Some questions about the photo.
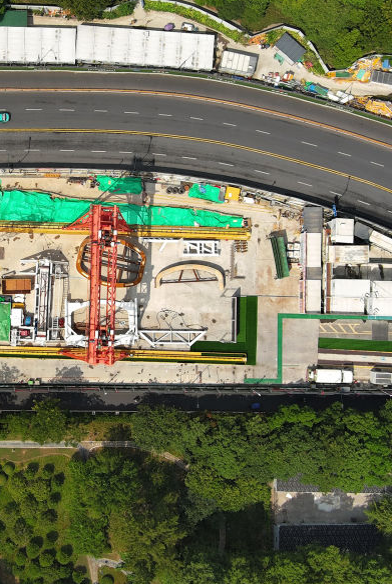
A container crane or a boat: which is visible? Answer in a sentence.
I can see a container crane in this picture.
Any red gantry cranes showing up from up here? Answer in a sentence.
Yes, there is a red gantry crane in the image.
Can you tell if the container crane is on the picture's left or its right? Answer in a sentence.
The container crane appears in the left half of the scene.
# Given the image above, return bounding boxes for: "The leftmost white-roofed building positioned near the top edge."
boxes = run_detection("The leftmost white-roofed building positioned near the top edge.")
[0,26,76,66]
